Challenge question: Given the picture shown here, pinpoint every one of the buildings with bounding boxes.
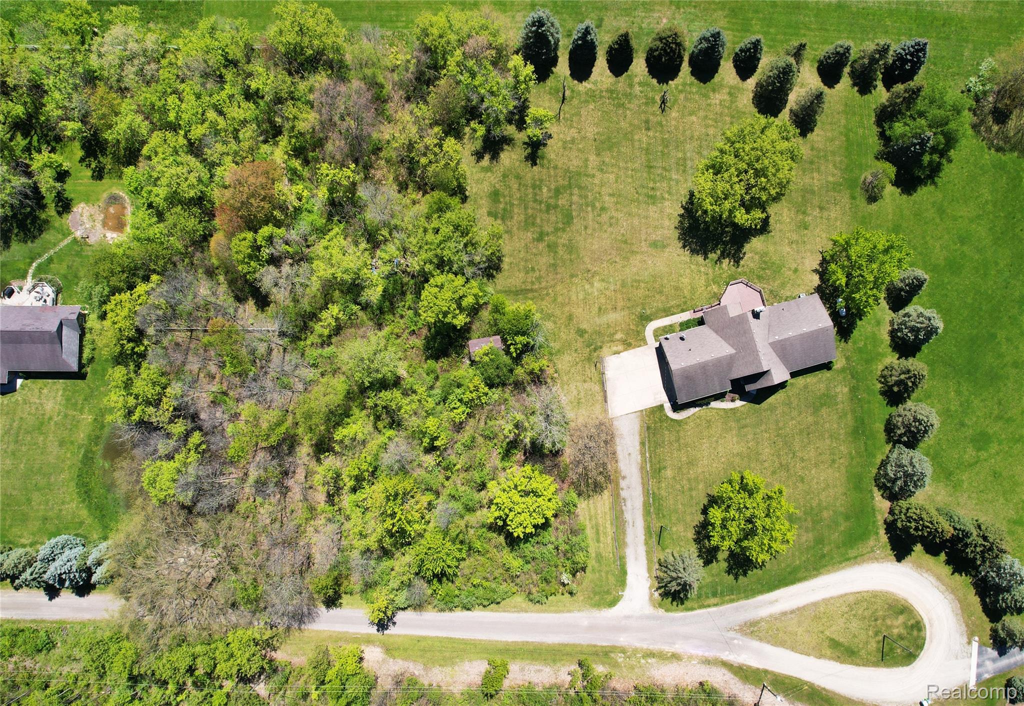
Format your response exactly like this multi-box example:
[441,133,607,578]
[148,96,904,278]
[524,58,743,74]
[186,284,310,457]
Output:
[0,305,91,384]
[658,292,837,404]
[469,336,503,362]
